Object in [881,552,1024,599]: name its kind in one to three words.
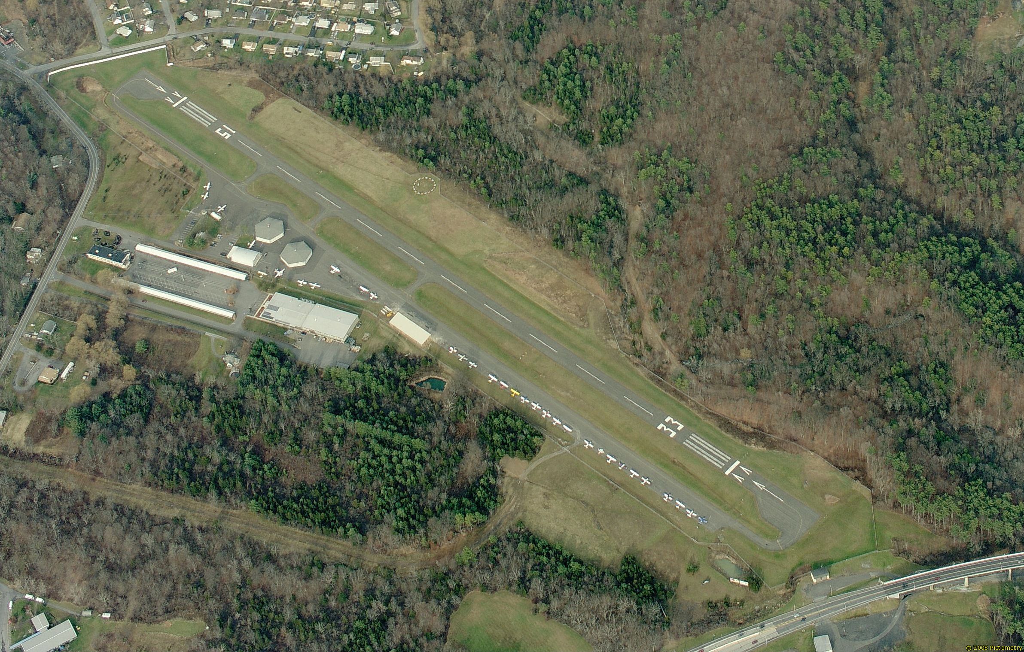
overpass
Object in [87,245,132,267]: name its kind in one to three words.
building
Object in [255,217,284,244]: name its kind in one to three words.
hangar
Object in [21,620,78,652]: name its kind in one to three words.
building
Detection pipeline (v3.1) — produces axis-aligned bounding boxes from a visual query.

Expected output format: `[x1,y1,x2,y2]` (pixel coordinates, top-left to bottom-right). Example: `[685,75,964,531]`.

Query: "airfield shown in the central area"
[110,68,822,550]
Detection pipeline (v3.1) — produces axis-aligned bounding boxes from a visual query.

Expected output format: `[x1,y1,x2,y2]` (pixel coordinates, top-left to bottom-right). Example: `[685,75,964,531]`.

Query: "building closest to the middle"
[389,312,431,347]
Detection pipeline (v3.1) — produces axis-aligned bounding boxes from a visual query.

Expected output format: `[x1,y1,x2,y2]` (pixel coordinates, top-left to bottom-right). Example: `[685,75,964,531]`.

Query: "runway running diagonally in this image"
[136,68,822,525]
